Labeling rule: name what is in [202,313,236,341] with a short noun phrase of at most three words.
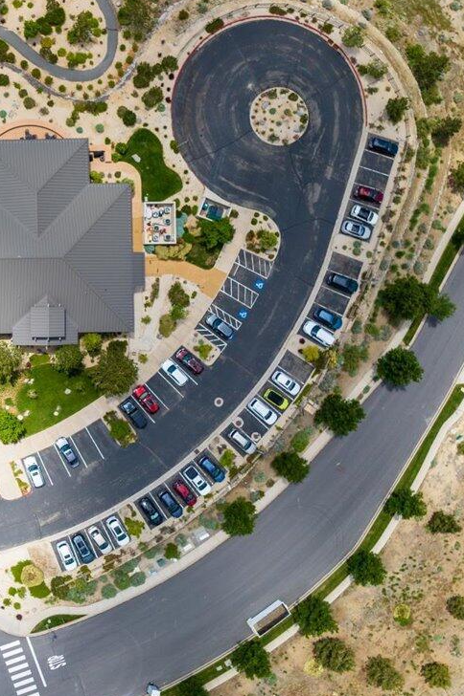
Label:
car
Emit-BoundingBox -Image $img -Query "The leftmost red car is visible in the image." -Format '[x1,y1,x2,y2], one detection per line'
[133,384,160,415]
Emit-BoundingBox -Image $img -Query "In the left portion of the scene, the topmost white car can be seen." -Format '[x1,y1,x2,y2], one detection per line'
[161,358,191,387]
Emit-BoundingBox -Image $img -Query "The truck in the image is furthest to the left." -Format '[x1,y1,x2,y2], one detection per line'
[22,454,45,491]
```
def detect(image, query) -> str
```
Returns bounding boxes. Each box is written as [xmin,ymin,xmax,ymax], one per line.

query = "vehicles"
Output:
[22,454,45,491]
[138,495,164,526]
[161,358,191,387]
[261,386,290,411]
[347,203,381,226]
[155,488,184,520]
[202,313,236,341]
[182,465,211,495]
[246,396,278,425]
[300,320,338,348]
[106,514,130,549]
[55,539,79,573]
[174,347,206,375]
[55,436,82,470]
[198,454,227,484]
[338,219,372,240]
[365,136,400,156]
[133,384,160,415]
[88,524,112,556]
[325,272,360,295]
[72,532,97,566]
[352,184,383,204]
[270,368,301,397]
[227,427,257,456]
[171,477,199,509]
[118,395,149,431]
[311,306,345,331]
